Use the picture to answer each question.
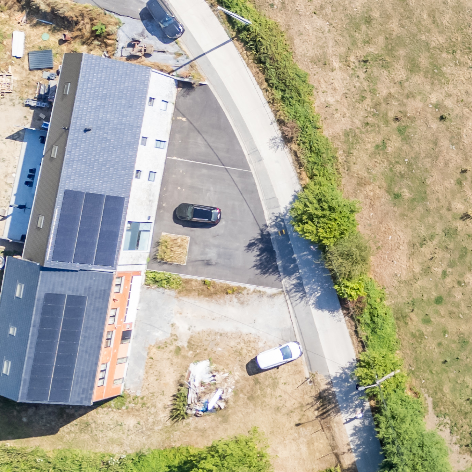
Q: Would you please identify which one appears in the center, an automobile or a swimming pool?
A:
automobile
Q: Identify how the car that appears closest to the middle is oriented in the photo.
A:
from side to side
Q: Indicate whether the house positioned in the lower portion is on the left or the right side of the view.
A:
left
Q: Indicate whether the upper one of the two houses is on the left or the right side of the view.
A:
left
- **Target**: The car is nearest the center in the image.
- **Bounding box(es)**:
[175,200,225,227]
